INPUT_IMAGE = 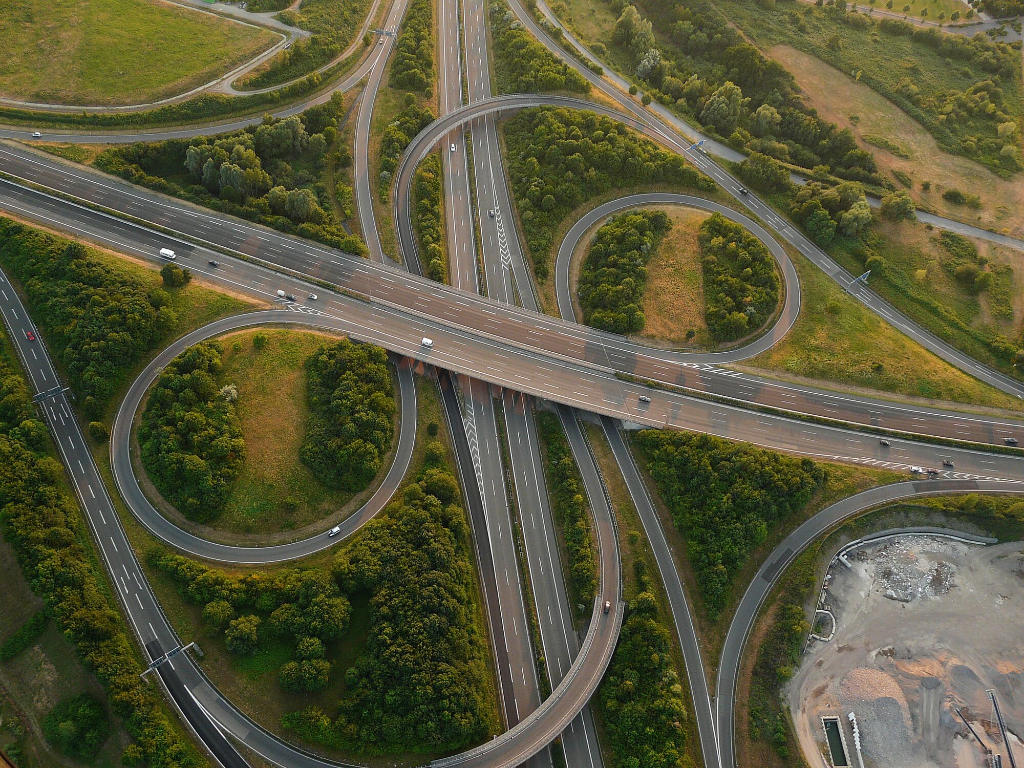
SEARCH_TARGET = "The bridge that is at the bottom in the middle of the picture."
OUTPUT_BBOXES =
[417,595,622,768]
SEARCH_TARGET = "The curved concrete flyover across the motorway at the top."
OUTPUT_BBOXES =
[402,93,541,167]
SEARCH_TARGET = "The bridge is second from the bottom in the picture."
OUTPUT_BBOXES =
[331,249,662,428]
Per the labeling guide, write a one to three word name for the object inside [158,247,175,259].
vehicle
